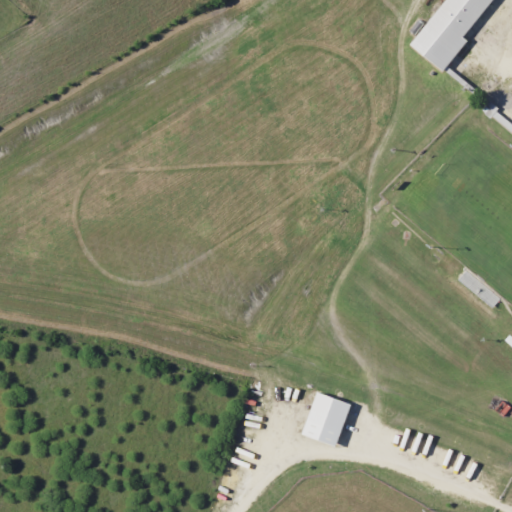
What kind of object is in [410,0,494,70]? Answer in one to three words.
barn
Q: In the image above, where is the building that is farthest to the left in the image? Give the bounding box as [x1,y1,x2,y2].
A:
[302,393,352,447]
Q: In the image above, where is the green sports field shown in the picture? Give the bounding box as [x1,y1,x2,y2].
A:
[387,104,512,313]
